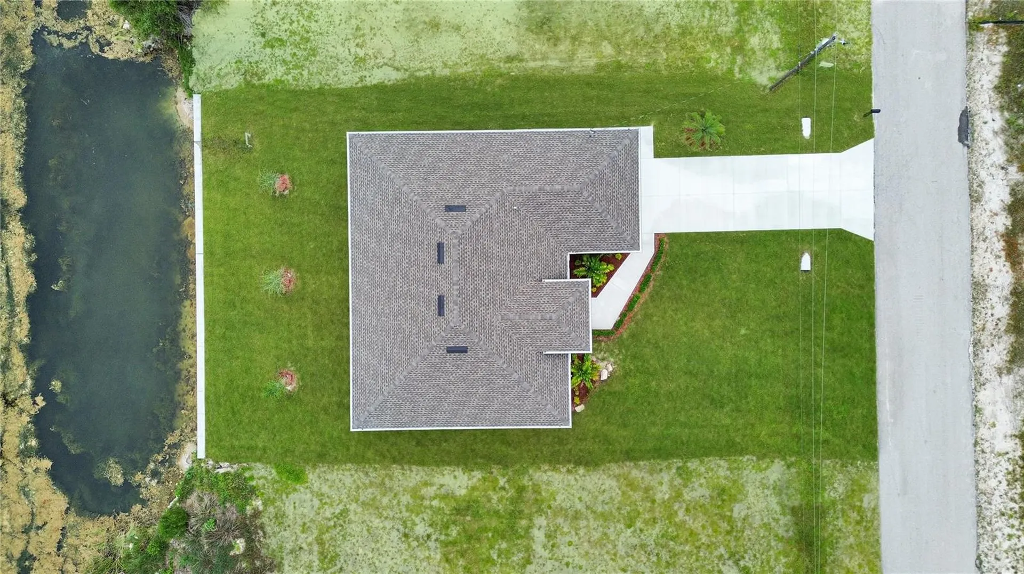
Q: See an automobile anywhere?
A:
No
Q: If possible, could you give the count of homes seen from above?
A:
1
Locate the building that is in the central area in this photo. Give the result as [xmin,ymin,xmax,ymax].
[347,126,641,431]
